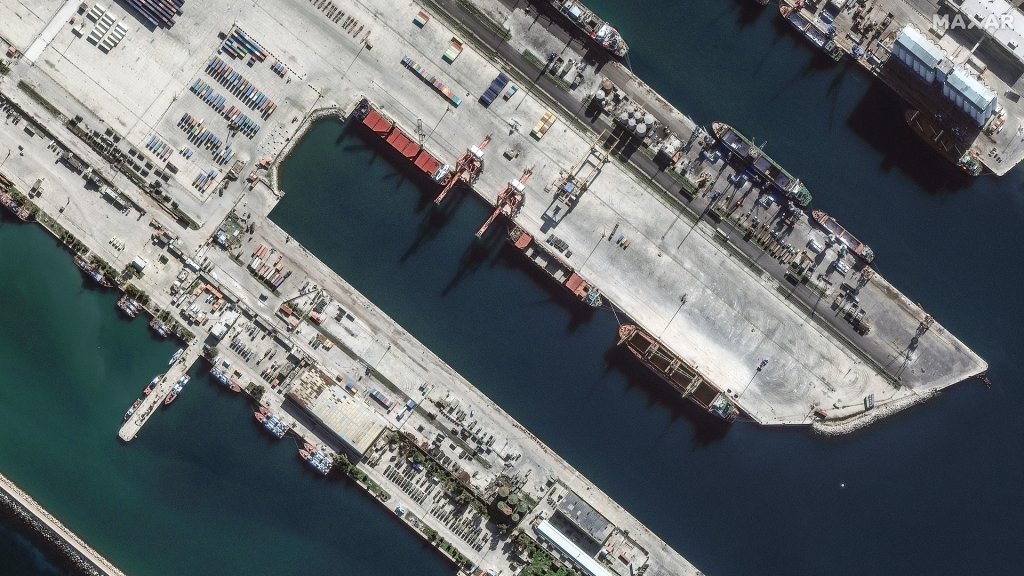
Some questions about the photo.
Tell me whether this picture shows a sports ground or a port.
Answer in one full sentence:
It's a port.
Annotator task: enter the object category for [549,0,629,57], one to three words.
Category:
ship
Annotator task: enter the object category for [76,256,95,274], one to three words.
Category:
boat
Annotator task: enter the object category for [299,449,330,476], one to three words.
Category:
boat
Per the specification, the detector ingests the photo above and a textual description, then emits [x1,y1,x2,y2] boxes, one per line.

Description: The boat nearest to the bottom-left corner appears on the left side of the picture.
[124,399,142,418]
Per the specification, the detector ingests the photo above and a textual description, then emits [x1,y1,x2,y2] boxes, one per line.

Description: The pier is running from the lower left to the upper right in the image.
[119,345,204,442]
